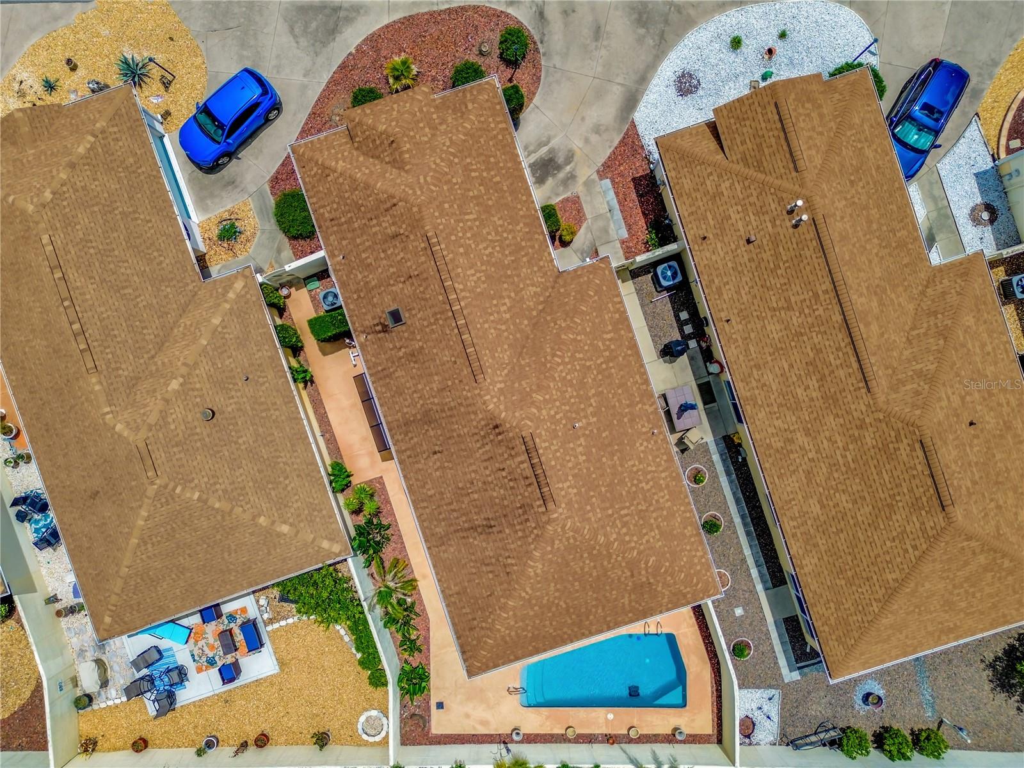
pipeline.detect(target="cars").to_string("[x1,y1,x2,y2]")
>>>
[887,57,966,179]
[181,66,283,171]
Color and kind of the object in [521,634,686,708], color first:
blue swimming pool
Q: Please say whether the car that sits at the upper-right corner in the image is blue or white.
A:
blue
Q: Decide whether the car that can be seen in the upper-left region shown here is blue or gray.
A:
blue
